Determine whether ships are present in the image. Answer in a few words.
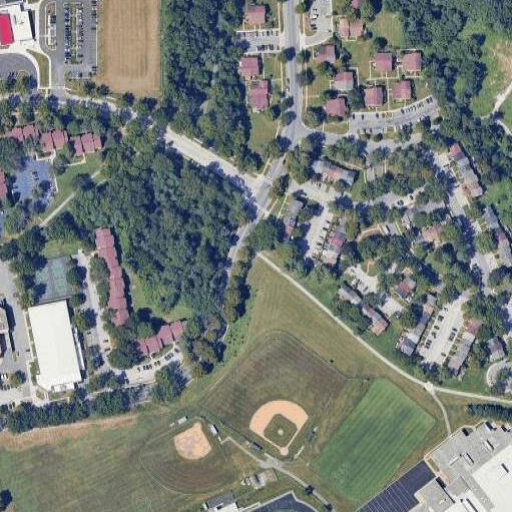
No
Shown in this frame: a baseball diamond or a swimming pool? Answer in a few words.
baseball diamond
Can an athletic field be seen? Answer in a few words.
Yes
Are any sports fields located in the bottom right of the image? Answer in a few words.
Yes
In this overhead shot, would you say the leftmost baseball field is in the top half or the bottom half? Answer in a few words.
bottom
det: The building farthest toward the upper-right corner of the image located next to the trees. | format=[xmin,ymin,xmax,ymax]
[402,54,422,73]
